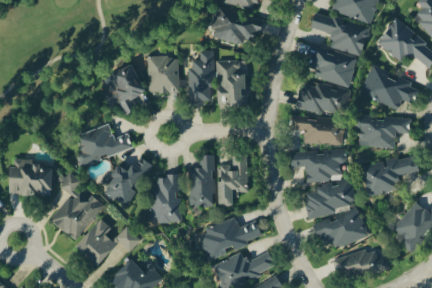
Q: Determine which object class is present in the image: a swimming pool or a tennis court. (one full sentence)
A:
Of the two, only a swimming pool appears.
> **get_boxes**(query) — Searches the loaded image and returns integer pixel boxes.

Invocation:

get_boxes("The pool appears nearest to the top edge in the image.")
[28,146,58,164]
